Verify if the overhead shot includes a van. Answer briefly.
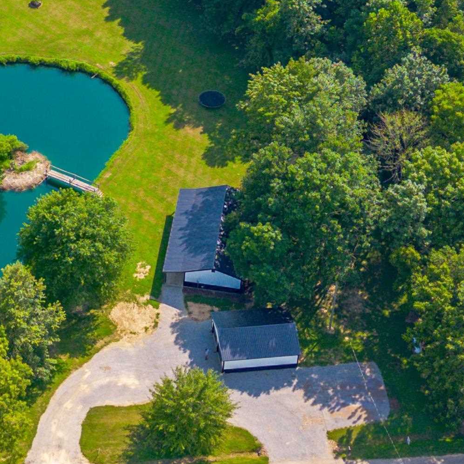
No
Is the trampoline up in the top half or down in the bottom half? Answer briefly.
top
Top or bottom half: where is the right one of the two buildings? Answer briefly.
bottom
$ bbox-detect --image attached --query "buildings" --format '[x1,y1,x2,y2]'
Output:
[161,183,253,294]
[211,308,304,373]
